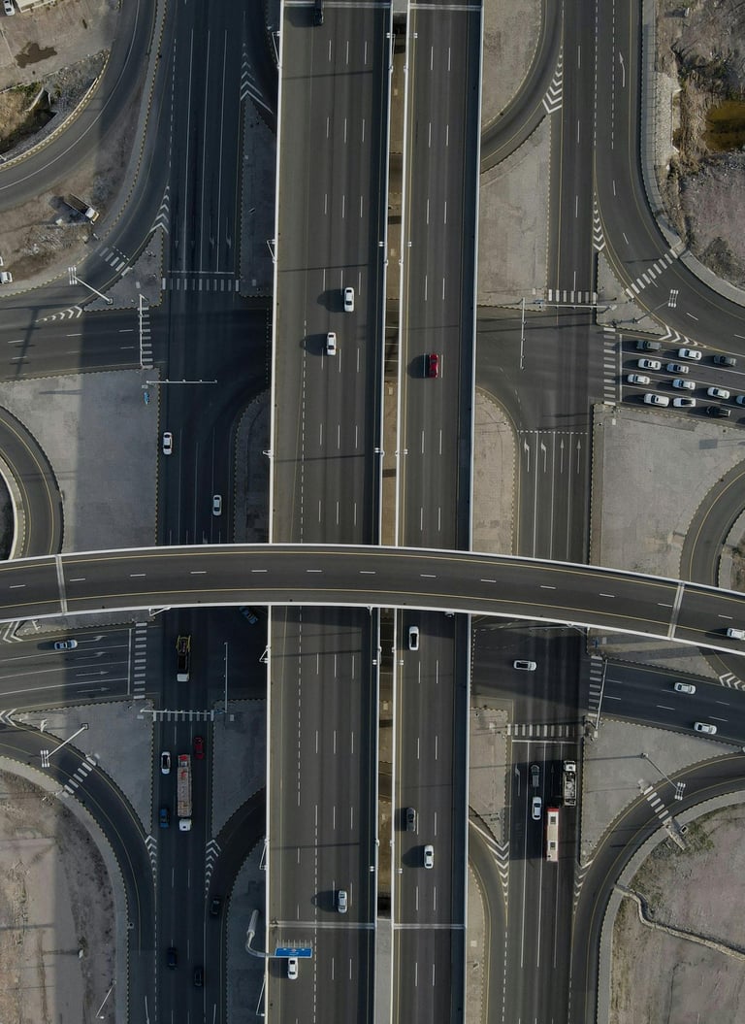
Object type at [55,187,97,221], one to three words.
truck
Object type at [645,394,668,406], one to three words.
vehicle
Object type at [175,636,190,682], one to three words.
vehicle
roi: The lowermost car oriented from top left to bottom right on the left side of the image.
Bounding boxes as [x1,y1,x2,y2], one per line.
[240,604,258,624]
